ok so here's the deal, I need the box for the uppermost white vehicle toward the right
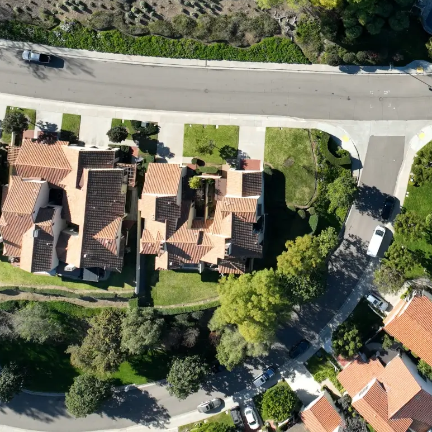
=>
[366,225,386,259]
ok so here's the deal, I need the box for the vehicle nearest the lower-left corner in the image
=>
[197,396,222,413]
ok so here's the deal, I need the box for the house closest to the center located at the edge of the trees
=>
[137,161,268,275]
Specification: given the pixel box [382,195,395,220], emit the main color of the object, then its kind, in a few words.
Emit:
black vehicle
